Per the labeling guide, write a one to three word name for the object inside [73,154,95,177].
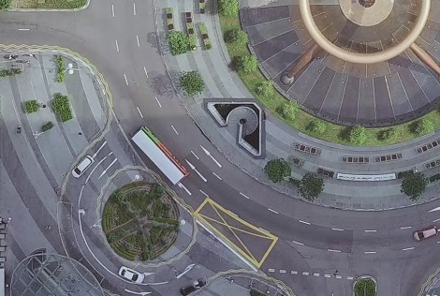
car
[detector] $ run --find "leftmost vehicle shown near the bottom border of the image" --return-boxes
[119,267,145,283]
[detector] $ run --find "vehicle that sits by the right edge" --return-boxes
[414,226,439,241]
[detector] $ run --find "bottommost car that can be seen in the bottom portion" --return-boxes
[180,278,206,296]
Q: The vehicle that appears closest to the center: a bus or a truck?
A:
bus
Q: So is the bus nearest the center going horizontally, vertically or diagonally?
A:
diagonally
